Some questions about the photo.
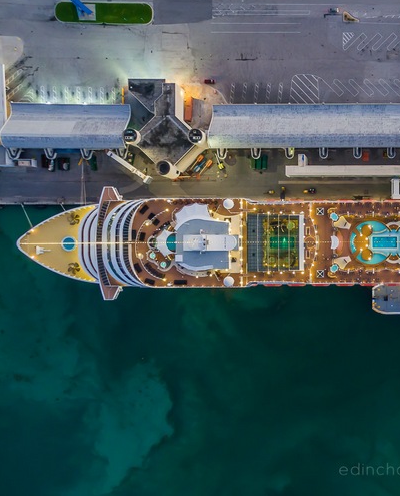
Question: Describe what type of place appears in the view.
port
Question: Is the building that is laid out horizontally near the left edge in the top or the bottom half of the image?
top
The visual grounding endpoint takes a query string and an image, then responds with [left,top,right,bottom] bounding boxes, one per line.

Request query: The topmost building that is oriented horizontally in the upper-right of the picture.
[209,102,400,161]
